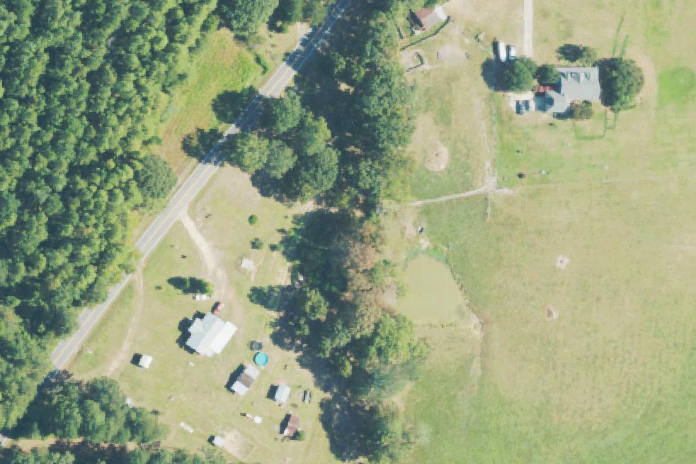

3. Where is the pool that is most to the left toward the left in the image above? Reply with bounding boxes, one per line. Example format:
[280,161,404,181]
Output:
[254,352,269,367]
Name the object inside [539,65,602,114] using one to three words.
house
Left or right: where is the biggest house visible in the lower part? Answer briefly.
left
